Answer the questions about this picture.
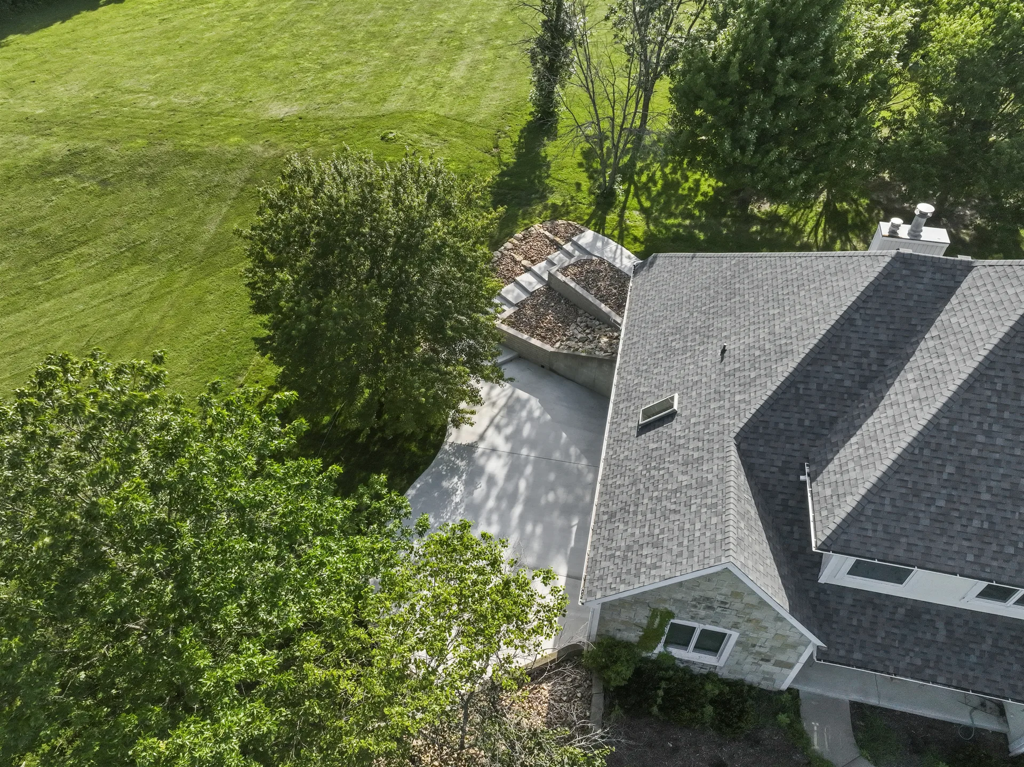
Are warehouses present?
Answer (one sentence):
No, no warehouse can be seen from above.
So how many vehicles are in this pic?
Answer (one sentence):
There are no vehicles in the image.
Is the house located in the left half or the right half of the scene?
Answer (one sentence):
You can find the house on the right side of the picture.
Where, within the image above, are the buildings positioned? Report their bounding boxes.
[576,203,1024,765]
